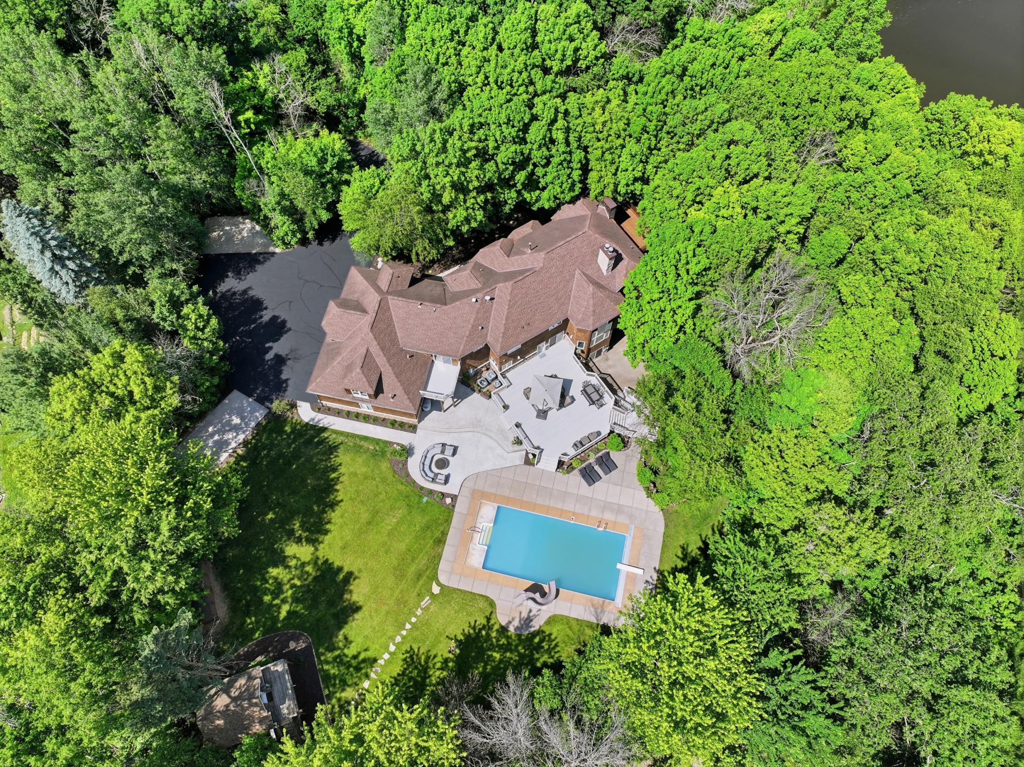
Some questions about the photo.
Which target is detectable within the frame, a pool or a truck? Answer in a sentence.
Visible in the photo is a pool.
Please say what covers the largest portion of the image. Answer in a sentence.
Most of the picture is covered by trees.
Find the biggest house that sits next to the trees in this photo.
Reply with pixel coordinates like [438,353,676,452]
[306,195,645,424]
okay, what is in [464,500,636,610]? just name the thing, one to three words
swimming pool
